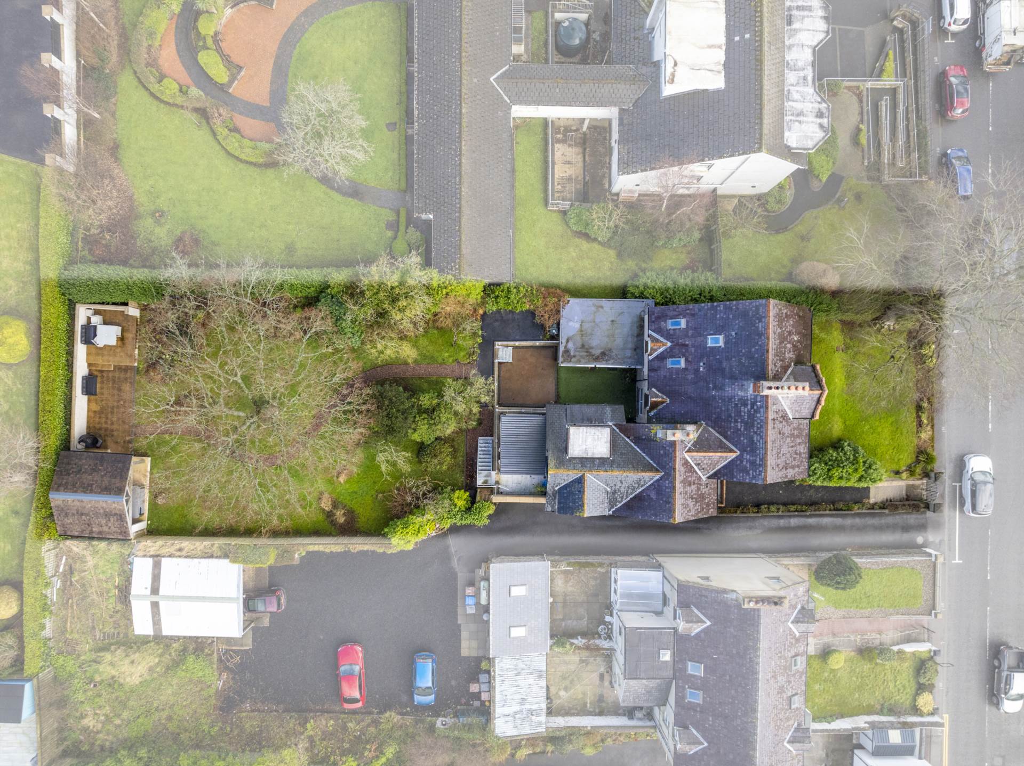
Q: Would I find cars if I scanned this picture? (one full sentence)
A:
Yes, the image includes a car.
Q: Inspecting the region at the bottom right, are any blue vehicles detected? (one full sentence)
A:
No, I see no blue vehicle at the bottom right.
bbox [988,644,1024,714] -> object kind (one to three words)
truck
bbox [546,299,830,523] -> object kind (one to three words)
house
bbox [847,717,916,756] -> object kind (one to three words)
building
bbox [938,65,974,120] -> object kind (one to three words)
car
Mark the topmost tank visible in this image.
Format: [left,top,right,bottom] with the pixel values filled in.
[558,14,591,54]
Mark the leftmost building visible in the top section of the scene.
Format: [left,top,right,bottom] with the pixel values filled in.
[412,0,515,284]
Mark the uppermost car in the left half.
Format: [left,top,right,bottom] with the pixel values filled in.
[243,585,284,614]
